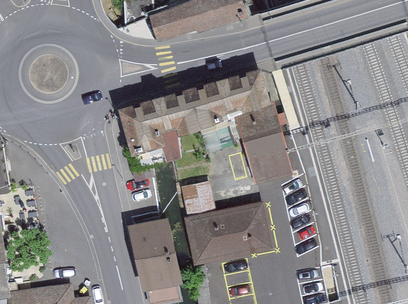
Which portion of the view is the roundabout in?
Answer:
top left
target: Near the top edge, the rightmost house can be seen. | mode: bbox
[148,0,250,41]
